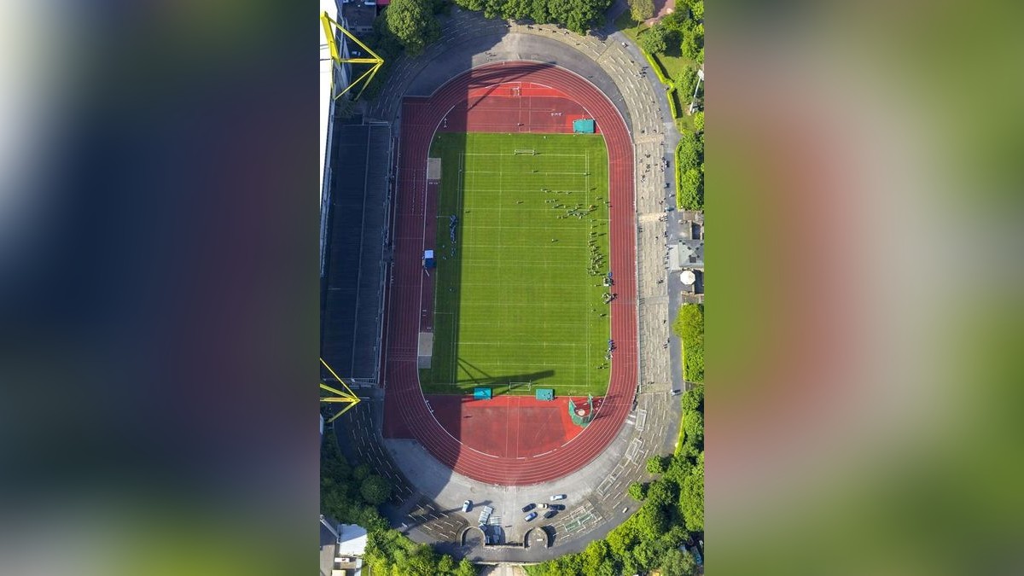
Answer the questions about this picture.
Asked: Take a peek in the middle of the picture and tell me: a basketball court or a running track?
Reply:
running track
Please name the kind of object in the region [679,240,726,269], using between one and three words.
building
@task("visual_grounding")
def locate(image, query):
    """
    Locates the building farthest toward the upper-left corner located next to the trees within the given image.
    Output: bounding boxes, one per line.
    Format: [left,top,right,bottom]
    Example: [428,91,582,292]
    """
[341,0,379,37]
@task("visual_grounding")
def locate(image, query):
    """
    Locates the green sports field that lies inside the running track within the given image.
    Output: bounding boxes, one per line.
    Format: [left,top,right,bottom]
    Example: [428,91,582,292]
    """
[419,132,610,396]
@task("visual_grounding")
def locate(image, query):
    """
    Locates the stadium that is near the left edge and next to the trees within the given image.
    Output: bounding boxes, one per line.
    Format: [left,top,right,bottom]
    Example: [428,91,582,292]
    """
[0,0,384,574]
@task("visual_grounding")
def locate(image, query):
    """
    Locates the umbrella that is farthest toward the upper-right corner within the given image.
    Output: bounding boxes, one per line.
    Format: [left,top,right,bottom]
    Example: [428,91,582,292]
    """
[680,271,694,284]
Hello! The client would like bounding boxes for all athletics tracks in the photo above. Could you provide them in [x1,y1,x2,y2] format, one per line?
[380,59,638,486]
